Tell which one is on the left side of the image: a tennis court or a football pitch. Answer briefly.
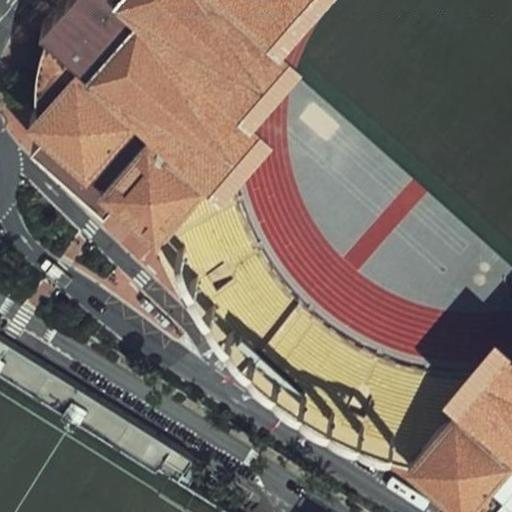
football pitch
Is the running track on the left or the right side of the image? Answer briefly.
right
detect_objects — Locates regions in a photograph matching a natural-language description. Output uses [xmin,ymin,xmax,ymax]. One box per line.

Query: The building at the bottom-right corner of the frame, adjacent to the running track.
[405,346,512,512]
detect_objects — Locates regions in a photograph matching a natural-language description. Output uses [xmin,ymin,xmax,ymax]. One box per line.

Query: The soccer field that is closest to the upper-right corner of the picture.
[296,0,512,262]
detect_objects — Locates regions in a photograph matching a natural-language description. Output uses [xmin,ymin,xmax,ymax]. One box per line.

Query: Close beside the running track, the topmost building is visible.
[28,0,338,248]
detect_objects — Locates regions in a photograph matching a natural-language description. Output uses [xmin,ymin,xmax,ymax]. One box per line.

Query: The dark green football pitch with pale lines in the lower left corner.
[0,380,217,512]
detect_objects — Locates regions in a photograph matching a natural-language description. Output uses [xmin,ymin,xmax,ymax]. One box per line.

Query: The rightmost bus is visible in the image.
[387,478,431,512]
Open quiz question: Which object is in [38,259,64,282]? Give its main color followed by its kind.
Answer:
white truck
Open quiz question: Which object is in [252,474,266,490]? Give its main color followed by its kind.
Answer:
white car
